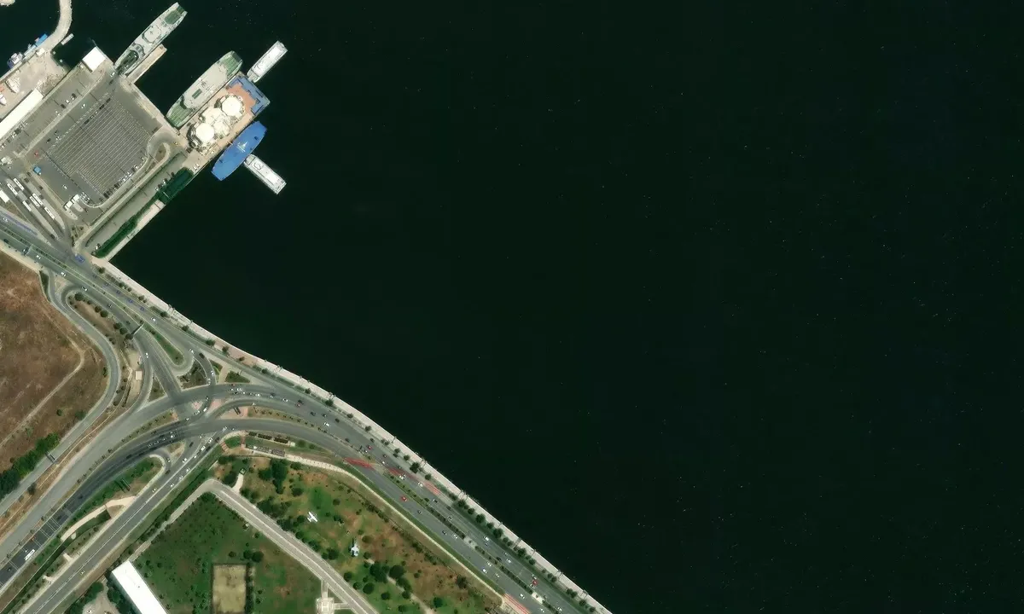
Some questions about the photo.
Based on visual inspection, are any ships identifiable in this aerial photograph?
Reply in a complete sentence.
Yes, a ship can be made out from above.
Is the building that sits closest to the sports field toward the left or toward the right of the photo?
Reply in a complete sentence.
You can find the building that sits closest to the sports field on the left side of the picture.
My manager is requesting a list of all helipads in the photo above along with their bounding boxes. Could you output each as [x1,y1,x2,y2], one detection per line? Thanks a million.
[315,580,350,614]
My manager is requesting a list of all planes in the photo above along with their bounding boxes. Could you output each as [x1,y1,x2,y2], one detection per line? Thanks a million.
[351,541,360,557]
[307,511,319,522]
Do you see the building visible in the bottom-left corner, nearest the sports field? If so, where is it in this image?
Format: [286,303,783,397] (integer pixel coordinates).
[112,560,167,614]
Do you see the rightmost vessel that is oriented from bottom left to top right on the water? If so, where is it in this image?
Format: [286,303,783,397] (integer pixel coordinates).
[248,42,286,82]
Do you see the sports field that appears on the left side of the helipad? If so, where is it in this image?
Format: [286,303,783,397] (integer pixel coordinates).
[211,563,247,614]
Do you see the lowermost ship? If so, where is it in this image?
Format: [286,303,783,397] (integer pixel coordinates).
[245,155,285,194]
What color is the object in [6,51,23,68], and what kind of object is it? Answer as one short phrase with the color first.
white boat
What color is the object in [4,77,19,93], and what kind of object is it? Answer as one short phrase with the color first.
white boat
